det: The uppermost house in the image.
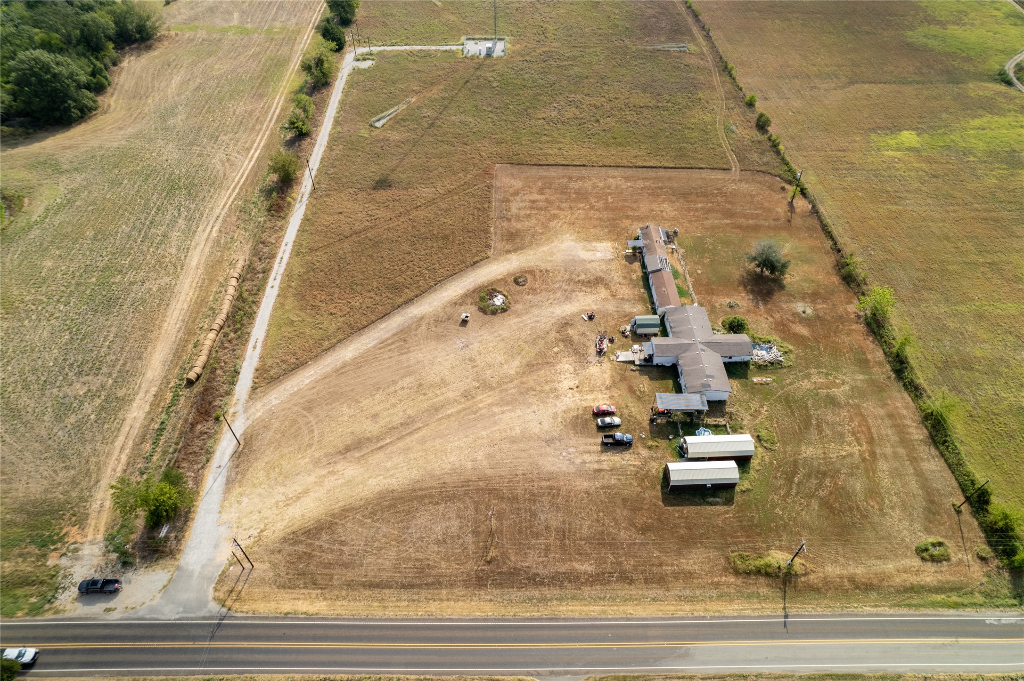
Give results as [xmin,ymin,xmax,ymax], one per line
[639,223,671,279]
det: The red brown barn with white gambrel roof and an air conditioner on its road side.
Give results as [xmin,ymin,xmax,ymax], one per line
[665,464,739,490]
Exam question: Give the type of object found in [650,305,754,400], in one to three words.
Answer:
house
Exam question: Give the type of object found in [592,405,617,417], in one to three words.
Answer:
vehicle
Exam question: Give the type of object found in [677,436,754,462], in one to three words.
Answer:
barn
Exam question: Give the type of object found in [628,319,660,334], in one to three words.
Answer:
shed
